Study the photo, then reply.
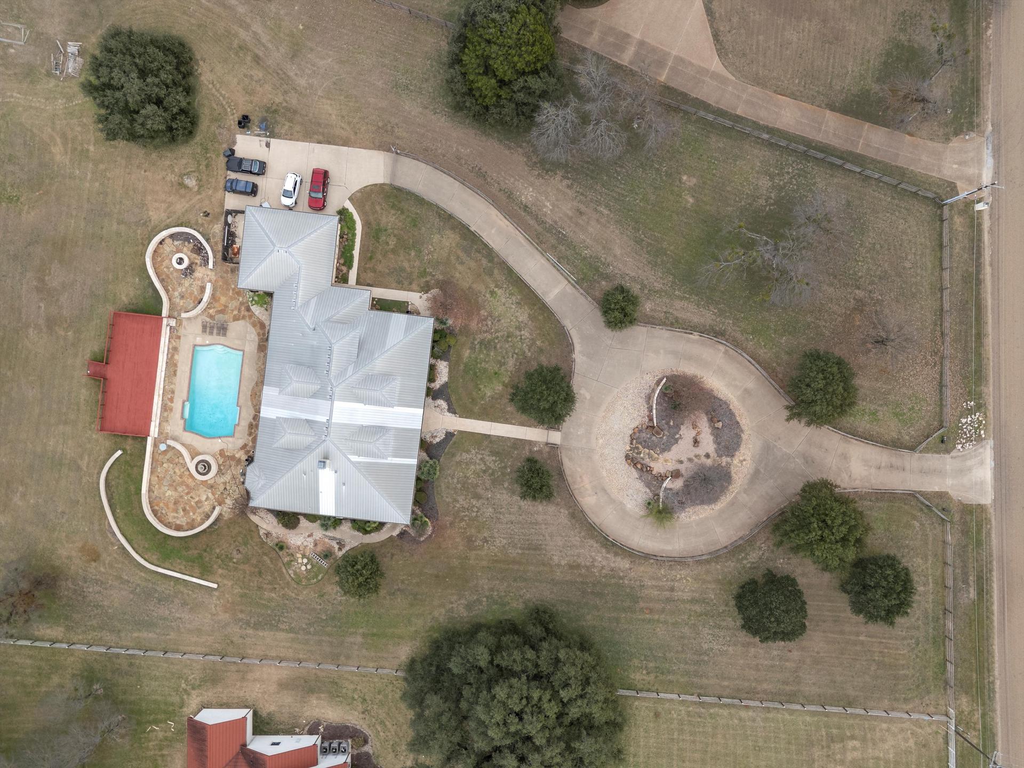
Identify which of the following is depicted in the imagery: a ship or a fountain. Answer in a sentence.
I can see a fountain in this picture.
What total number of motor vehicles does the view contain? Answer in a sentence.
My tally gives 4 motor vehicles in this view.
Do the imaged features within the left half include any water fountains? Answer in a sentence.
Yes, the scene does show a water fountain within the left half.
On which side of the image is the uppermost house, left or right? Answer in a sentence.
The uppermost house sits on the left side.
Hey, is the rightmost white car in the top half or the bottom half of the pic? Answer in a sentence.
The top half of the photo is where the rightmost white car is.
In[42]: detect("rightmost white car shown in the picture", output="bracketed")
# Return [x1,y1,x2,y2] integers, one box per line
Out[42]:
[281,172,303,210]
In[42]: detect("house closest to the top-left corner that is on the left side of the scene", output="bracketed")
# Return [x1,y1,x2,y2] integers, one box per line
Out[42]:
[236,204,434,525]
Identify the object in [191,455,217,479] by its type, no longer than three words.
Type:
fountain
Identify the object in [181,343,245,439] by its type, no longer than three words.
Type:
swimming pool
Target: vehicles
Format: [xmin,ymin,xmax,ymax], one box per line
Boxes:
[308,168,330,212]
[225,178,261,198]
[225,157,269,177]
[281,172,303,210]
